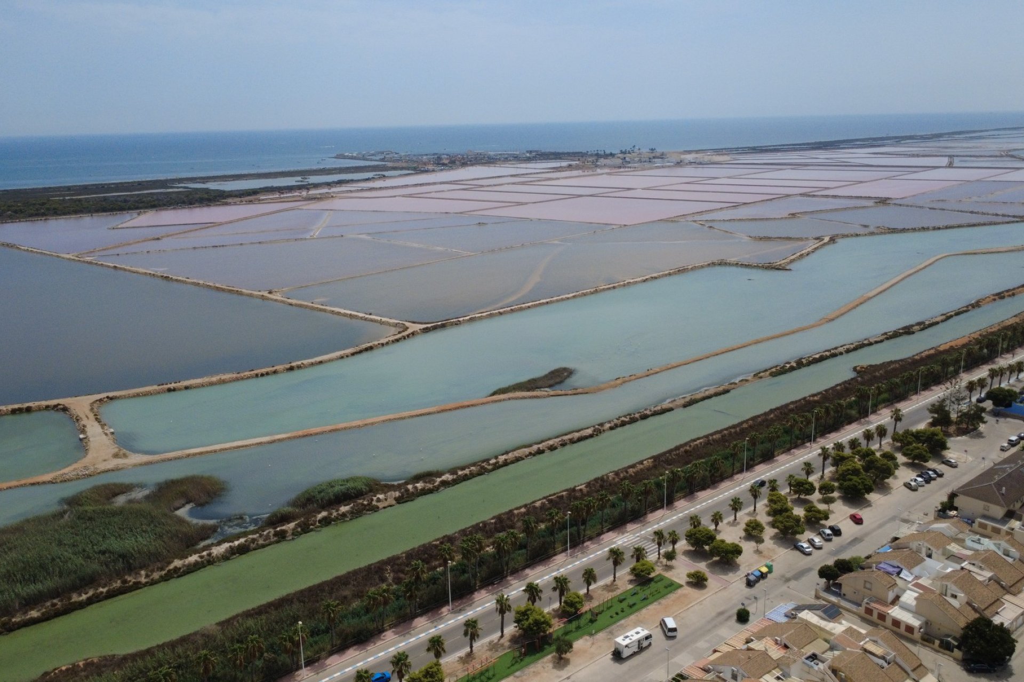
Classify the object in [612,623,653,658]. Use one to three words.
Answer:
camper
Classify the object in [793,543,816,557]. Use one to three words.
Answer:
car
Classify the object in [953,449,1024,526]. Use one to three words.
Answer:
house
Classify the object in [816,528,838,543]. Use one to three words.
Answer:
vehicle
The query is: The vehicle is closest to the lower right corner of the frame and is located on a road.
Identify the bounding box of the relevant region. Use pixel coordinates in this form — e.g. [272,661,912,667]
[961,659,996,681]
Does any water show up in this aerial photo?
Yes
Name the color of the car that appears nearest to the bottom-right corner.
black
